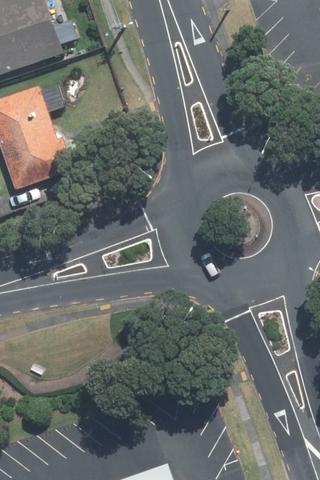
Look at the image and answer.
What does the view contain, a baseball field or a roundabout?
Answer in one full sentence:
Of the two, only a roundabout appears.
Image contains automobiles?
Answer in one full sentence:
Yes, there is an automobile in the image.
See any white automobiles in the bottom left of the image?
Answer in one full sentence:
No, there is no white automobile in the bottom left of the image.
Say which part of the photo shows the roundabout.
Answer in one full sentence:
Look in the right portion of the view to spot the roundabout.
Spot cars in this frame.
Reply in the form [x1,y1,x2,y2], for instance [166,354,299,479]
[8,186,41,206]
[202,252,220,278]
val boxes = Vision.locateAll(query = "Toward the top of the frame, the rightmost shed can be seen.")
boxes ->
[54,20,78,44]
